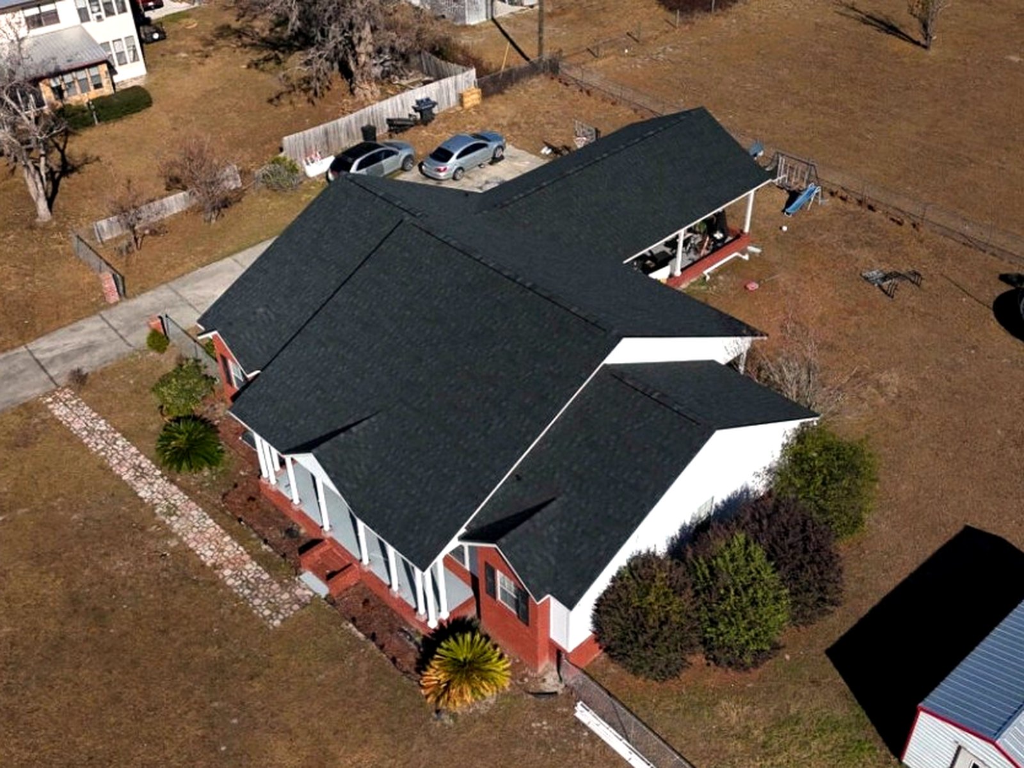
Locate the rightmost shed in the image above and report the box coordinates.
[903,590,1024,768]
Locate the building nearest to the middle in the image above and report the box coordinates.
[195,107,821,679]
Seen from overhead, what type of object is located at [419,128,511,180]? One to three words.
car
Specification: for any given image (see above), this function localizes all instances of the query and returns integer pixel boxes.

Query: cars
[419,128,511,180]
[319,136,418,185]
[130,0,167,9]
